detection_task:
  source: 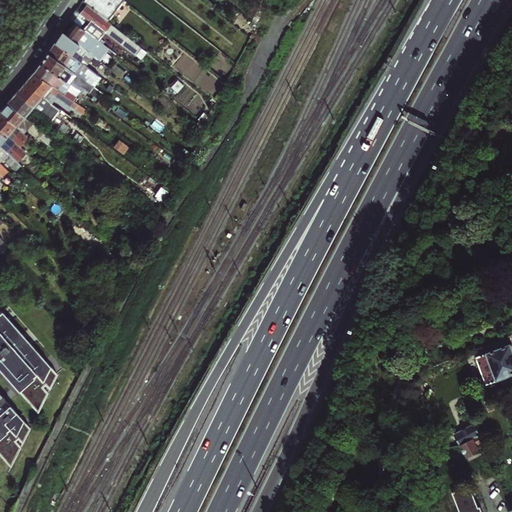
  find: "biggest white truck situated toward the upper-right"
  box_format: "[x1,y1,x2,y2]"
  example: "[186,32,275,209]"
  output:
[362,116,384,150]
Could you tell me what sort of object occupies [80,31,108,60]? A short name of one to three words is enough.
house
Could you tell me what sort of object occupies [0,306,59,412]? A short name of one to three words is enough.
building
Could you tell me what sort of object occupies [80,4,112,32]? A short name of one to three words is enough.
house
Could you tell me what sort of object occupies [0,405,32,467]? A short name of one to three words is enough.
building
